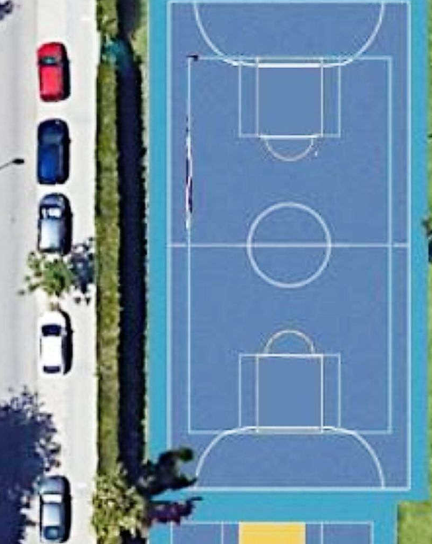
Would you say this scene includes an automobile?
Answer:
Yes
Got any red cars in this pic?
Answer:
Yes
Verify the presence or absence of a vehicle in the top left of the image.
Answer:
Yes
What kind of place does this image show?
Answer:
sports ground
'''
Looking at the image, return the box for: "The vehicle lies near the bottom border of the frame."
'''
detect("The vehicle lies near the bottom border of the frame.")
[38,477,66,543]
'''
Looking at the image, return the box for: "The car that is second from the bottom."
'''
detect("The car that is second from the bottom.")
[38,312,66,374]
